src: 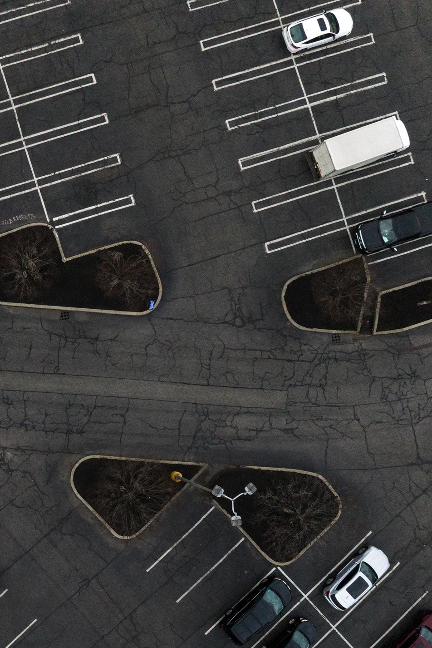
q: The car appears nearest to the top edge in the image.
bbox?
[281,9,352,55]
